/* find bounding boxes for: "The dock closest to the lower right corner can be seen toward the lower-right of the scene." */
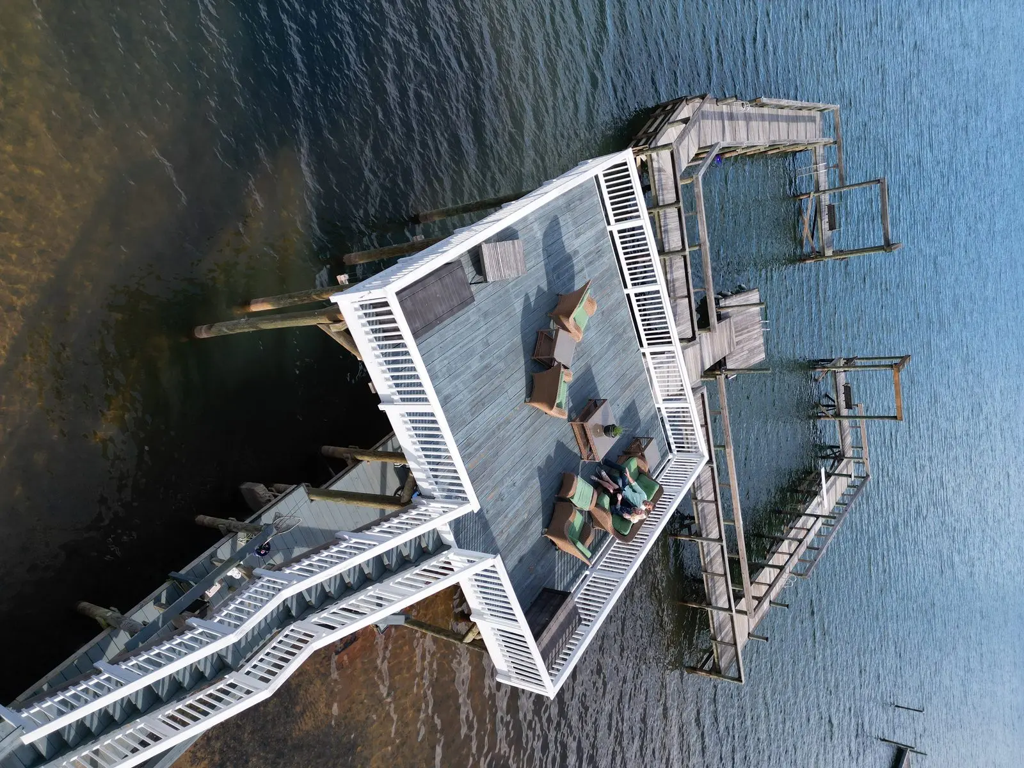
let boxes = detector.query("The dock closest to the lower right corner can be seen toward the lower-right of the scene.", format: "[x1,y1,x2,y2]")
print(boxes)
[890,748,912,768]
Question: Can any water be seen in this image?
Yes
